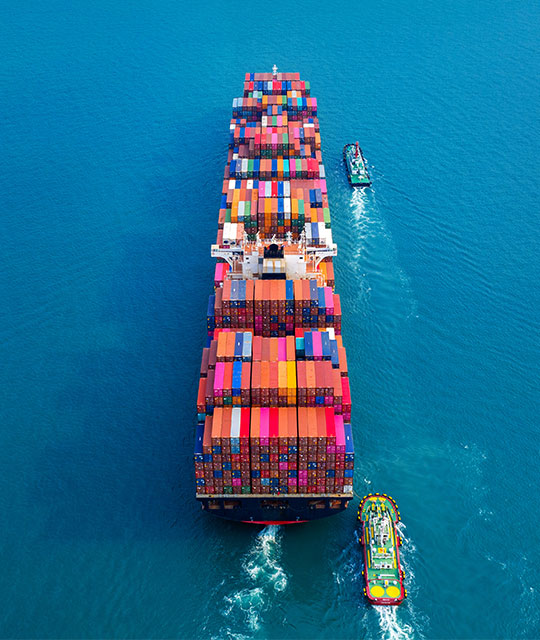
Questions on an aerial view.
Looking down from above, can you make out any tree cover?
No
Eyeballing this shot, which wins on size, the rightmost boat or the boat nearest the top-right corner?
the rightmost boat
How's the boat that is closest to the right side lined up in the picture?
vertically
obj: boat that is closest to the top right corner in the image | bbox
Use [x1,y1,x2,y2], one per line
[341,144,370,187]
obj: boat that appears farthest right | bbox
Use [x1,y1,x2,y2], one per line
[358,492,407,606]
